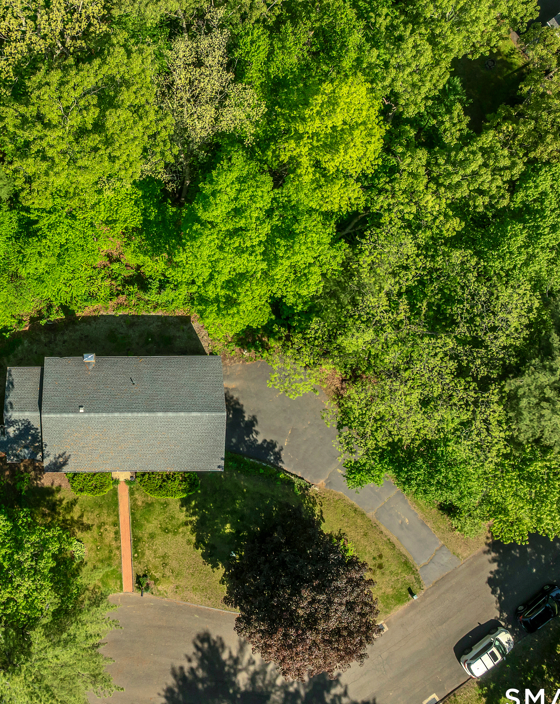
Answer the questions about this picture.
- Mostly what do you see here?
trees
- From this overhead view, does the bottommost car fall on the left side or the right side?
right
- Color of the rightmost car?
black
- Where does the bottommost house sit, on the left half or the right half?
left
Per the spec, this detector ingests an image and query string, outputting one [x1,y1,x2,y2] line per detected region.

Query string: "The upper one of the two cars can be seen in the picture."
[515,586,560,633]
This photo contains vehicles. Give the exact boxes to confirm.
[515,586,560,633]
[461,627,514,679]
